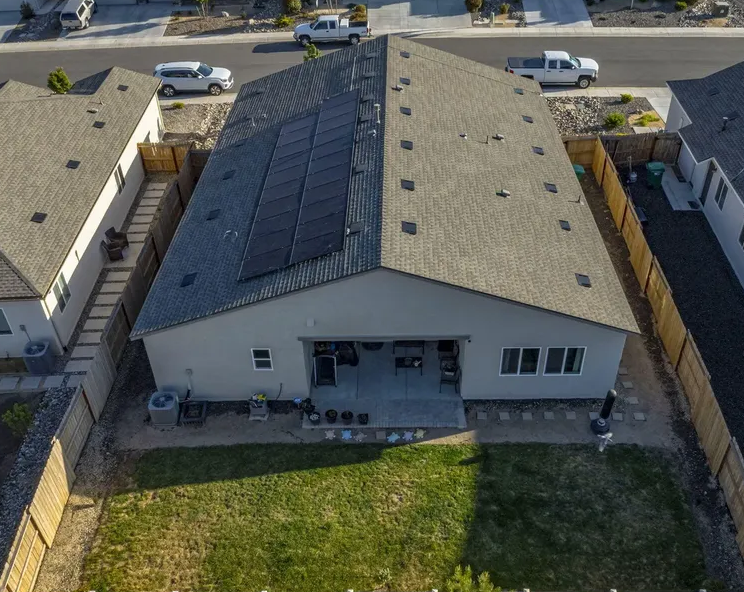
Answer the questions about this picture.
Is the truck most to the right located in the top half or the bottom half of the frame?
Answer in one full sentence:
The top half of the photo is where the truck most to the right is.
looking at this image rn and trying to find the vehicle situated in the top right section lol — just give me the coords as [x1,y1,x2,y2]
[503,49,600,87]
